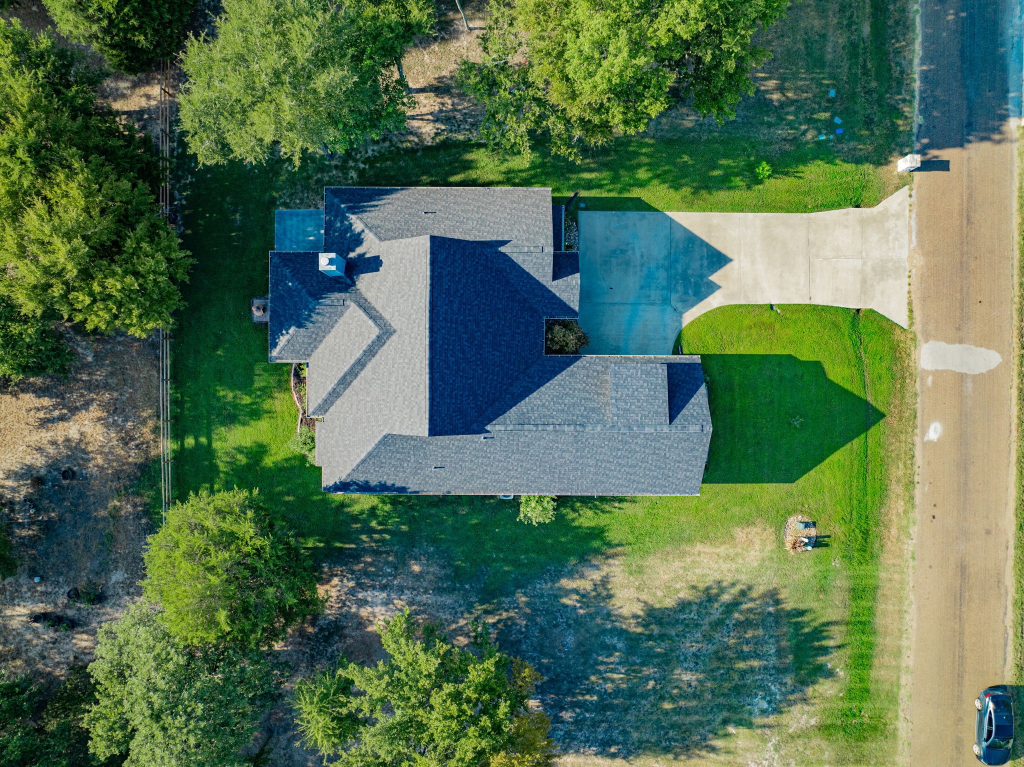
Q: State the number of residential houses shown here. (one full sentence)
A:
The picture shows 1 residential house.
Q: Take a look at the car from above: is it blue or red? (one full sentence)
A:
From above, the car appears blue.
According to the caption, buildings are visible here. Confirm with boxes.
[267,185,712,498]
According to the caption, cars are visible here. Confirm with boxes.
[974,688,1020,767]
